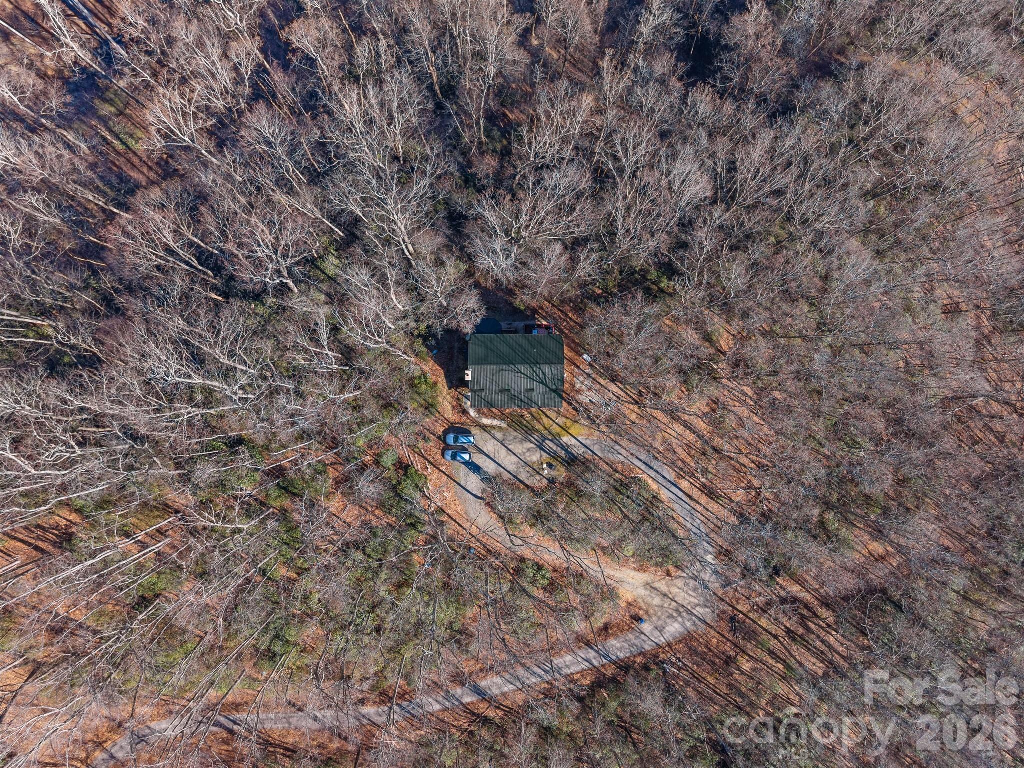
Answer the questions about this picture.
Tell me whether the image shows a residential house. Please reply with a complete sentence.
Yes, you can see a residential house in this photo.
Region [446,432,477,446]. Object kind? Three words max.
car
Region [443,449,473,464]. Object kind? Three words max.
car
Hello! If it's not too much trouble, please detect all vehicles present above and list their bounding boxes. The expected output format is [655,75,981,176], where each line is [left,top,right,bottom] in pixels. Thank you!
[443,449,473,464]
[446,432,477,446]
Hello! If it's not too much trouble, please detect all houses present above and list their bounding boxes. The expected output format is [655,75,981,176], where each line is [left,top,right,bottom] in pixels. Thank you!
[463,335,565,409]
